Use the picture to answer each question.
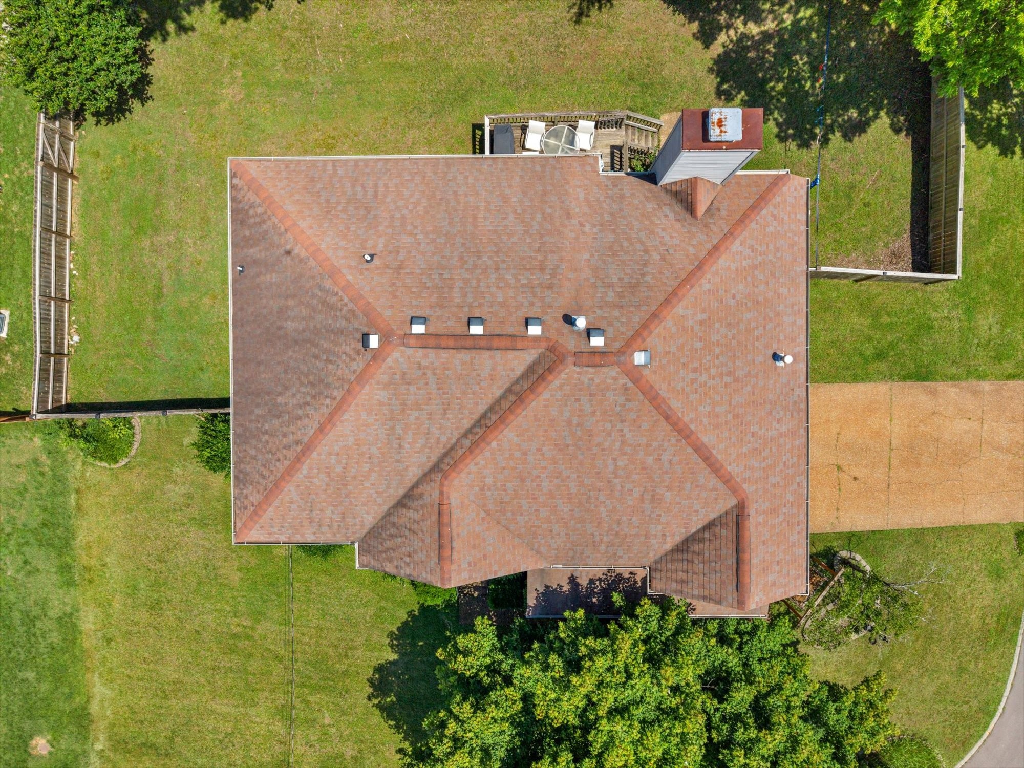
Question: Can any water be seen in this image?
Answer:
No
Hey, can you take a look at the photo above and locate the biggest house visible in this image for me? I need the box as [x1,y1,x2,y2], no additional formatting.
[227,106,813,620]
